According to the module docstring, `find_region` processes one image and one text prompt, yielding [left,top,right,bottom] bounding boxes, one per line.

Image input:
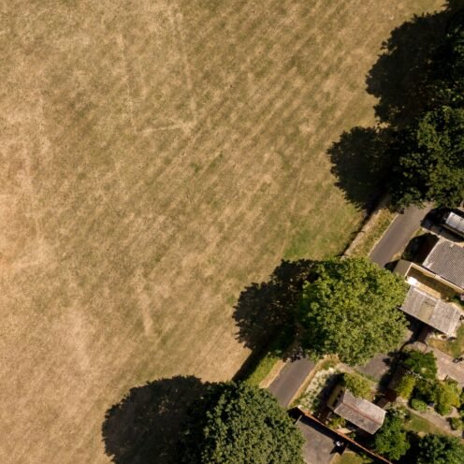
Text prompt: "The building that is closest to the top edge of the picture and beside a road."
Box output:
[433,213,464,242]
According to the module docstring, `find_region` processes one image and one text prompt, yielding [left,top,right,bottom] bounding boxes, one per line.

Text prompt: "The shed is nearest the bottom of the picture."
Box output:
[327,382,387,434]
